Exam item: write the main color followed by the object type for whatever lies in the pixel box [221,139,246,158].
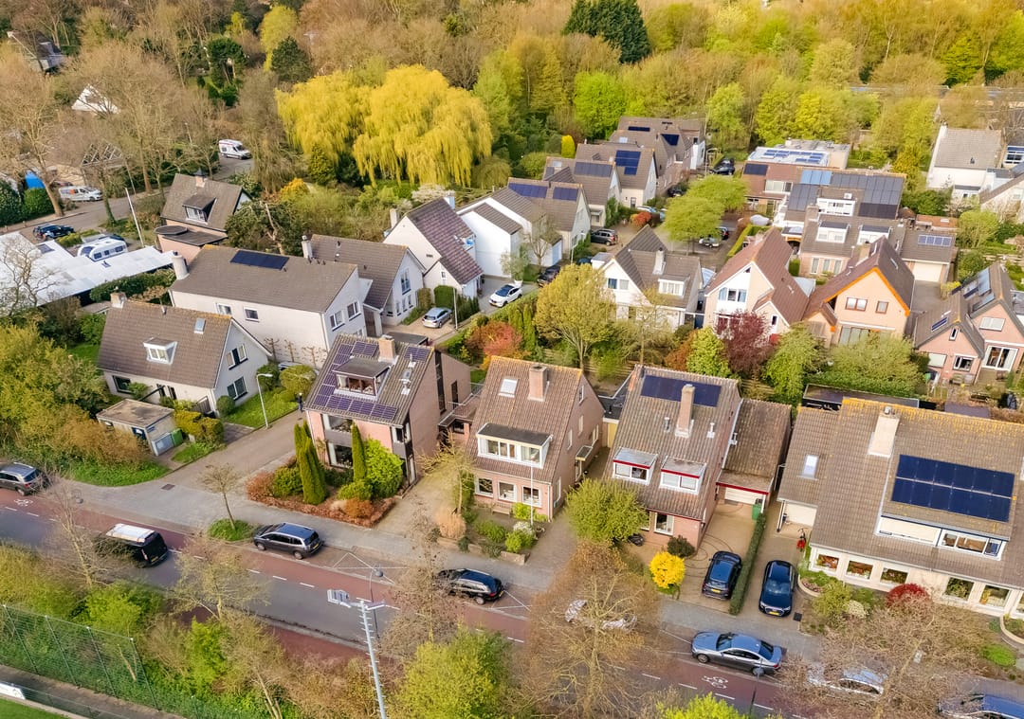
white vehicle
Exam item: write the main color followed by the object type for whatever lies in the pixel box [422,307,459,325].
gray car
